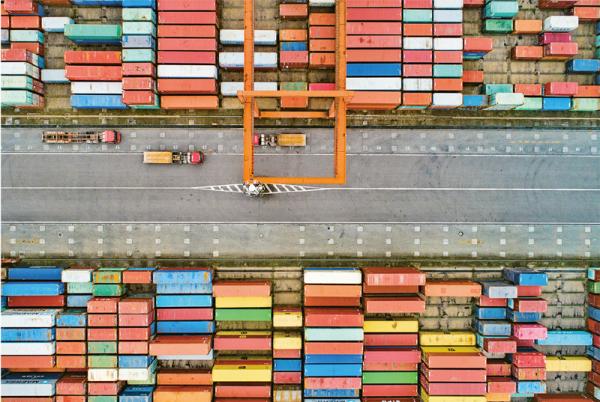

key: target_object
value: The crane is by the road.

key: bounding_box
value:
[238,0,354,184]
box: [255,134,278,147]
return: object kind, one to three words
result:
vehicle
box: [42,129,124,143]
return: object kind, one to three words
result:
vehicle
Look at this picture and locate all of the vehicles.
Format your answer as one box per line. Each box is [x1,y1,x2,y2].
[255,134,278,147]
[42,129,124,143]
[175,151,207,165]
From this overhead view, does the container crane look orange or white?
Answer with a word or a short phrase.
orange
